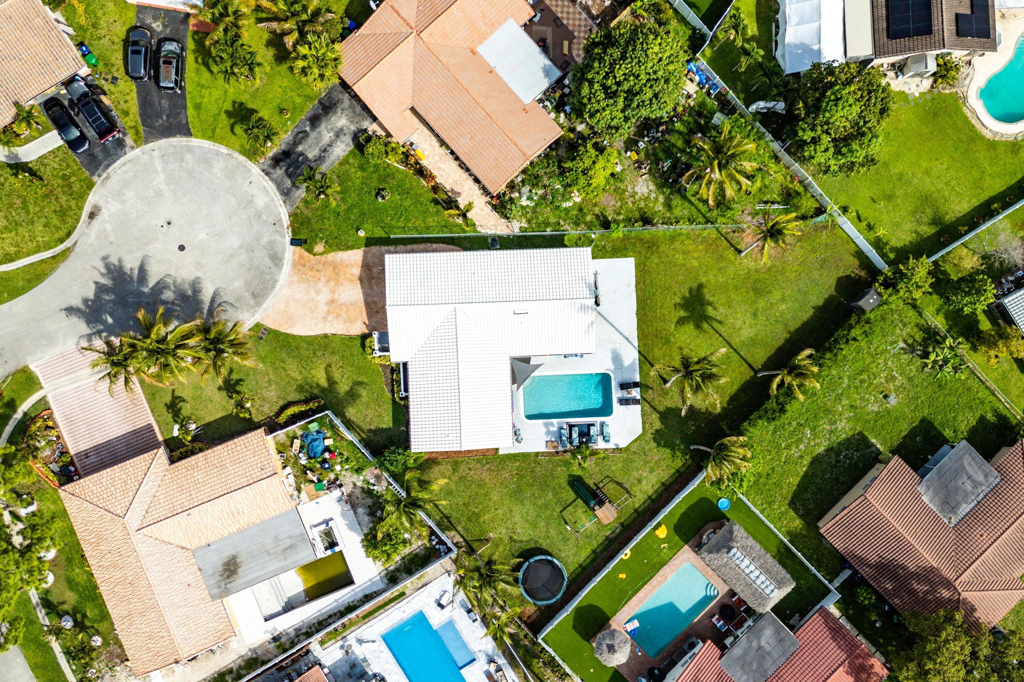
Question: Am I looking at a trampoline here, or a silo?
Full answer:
Looking from above, you can make out a trampoline.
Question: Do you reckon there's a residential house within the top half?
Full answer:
Yes, I can see a residential house within the top half.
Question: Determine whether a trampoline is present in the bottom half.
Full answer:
Yes, I can see a trampoline in the bottom half.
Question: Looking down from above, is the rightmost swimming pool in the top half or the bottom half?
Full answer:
The rightmost swimming pool is in the top half of the image.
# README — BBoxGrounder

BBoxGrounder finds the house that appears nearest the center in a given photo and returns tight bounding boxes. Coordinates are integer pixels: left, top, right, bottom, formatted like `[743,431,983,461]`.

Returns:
[373,247,595,452]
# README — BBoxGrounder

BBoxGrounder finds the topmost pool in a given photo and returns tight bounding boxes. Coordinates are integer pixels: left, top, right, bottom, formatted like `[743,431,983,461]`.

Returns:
[975,30,1024,126]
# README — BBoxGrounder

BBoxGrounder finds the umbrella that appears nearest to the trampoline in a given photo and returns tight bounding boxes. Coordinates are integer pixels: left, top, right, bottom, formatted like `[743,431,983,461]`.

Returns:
[590,624,633,667]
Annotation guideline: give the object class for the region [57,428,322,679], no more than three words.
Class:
house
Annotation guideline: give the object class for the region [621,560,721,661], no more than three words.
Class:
swimming pool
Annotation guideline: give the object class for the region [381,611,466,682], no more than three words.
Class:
swimming pool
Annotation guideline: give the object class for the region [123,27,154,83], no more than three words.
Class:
car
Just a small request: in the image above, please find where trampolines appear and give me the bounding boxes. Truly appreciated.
[520,555,569,612]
